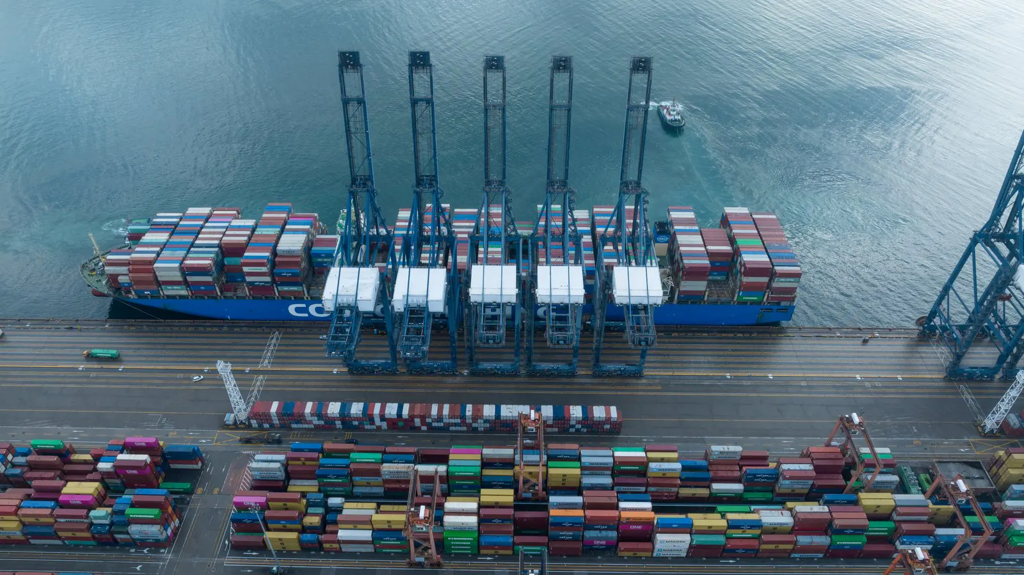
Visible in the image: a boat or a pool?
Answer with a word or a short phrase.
boat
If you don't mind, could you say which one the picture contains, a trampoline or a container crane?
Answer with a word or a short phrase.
container crane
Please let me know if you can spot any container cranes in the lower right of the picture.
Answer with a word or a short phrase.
Yes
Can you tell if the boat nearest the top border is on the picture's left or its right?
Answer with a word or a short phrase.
right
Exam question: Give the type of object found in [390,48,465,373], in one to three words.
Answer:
container crane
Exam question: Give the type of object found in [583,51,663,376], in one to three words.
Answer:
container crane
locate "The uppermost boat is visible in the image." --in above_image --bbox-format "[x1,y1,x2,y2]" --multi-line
[655,95,686,125]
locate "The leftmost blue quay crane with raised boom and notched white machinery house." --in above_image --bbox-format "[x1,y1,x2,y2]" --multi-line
[319,47,401,373]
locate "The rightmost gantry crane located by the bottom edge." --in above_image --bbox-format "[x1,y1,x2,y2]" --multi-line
[922,469,999,572]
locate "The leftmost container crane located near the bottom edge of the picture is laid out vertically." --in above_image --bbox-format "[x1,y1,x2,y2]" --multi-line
[408,464,447,567]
